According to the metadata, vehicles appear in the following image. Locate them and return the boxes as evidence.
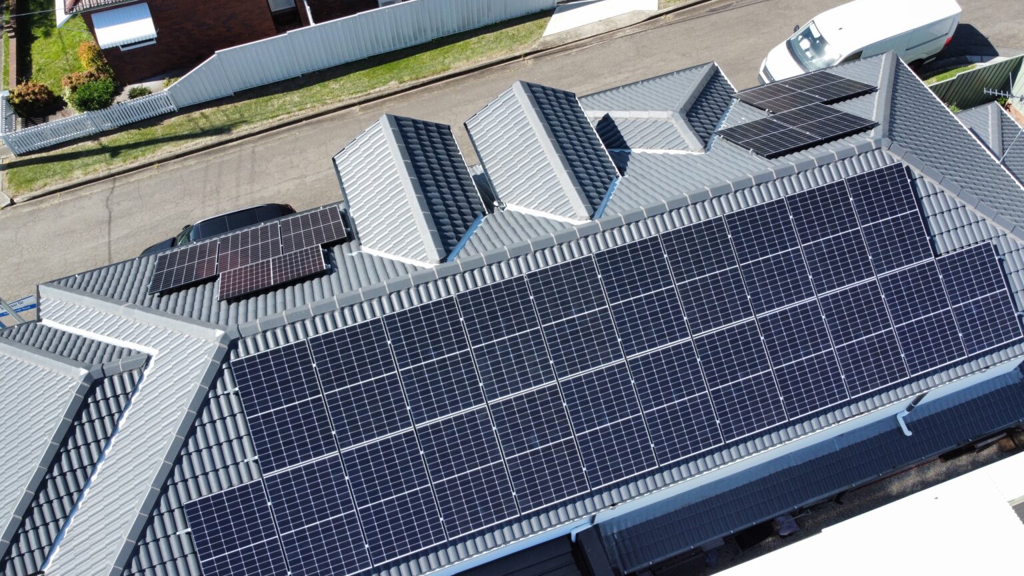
[120,200,300,254]
[753,0,960,84]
